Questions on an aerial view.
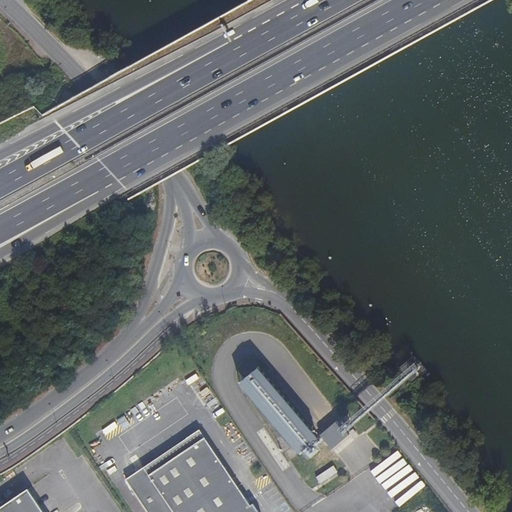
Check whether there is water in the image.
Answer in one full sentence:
Yes, there is water in the image.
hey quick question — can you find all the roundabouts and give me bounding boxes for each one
[192,248,232,287]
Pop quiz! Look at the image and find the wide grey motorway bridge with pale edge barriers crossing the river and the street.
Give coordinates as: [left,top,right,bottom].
[42,0,494,198]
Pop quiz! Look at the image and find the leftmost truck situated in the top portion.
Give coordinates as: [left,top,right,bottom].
[26,146,64,170]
